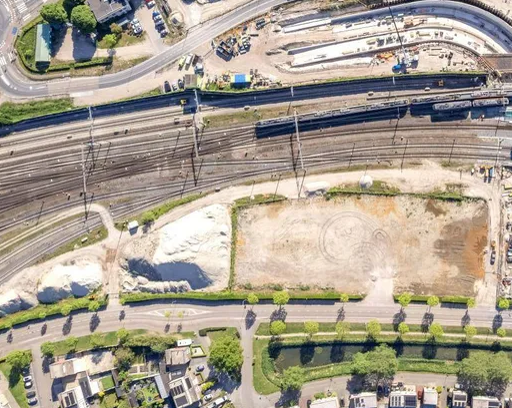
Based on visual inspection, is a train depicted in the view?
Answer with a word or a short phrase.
Yes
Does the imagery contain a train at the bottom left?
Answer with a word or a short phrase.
No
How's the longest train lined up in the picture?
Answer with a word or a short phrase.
horizontally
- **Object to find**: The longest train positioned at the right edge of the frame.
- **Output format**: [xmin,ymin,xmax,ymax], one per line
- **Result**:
[412,88,510,104]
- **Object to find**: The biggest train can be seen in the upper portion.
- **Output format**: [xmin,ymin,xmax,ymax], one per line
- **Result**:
[256,99,408,124]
